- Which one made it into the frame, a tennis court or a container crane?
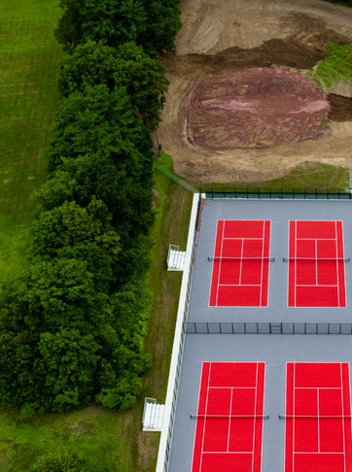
tennis court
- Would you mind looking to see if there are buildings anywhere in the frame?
No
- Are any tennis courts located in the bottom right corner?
Yes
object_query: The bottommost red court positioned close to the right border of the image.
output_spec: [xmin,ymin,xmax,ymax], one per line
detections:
[284,363,352,472]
